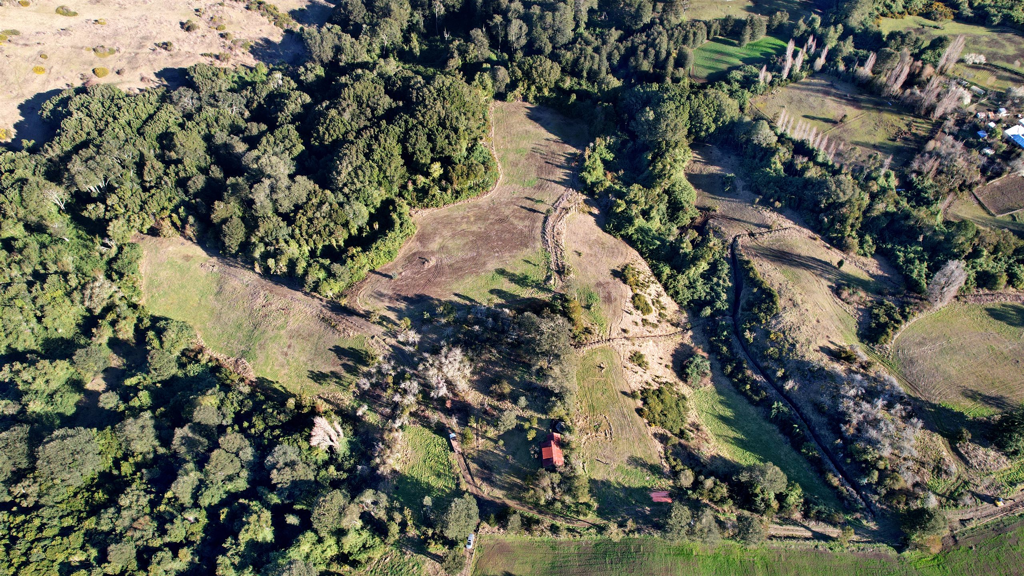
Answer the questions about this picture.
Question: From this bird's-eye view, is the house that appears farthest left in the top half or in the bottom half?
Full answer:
The house that appears farthest left sits in the bottom half of the picture.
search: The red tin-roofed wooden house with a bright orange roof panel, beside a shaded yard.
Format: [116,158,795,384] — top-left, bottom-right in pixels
[543,431,563,467]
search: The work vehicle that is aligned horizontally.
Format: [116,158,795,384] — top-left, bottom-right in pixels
[992,495,1020,507]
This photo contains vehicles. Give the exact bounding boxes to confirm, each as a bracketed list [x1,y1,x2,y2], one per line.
[466,531,475,548]
[449,430,460,453]
[992,495,1020,507]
